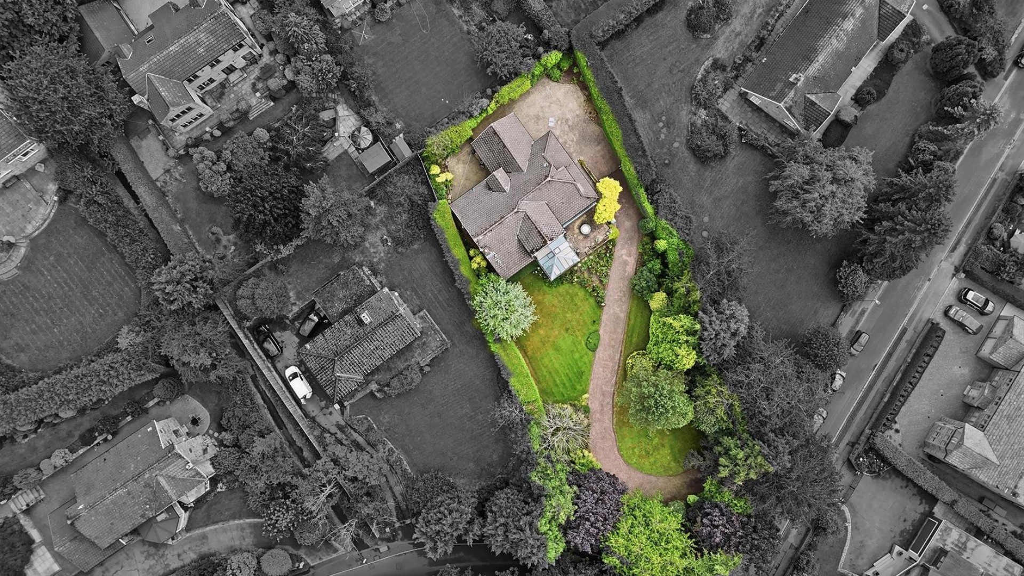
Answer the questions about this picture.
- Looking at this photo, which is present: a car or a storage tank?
car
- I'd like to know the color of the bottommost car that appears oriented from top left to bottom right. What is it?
white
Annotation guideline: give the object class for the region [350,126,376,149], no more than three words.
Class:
gazebo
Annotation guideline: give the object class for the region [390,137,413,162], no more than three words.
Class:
shed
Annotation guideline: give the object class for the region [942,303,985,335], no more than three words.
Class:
car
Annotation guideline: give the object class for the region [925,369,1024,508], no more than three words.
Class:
house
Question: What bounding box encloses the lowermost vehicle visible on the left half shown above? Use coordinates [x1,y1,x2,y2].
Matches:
[282,363,317,405]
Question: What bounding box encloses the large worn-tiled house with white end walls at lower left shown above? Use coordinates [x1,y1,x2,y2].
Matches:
[48,419,223,573]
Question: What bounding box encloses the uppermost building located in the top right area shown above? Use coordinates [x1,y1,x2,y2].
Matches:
[737,0,916,134]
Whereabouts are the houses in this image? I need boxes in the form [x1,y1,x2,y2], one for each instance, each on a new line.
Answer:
[861,511,1024,576]
[48,419,223,573]
[925,369,1024,508]
[319,0,368,23]
[737,0,916,134]
[0,109,48,181]
[997,229,1024,257]
[450,112,599,280]
[117,0,256,130]
[297,265,420,404]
